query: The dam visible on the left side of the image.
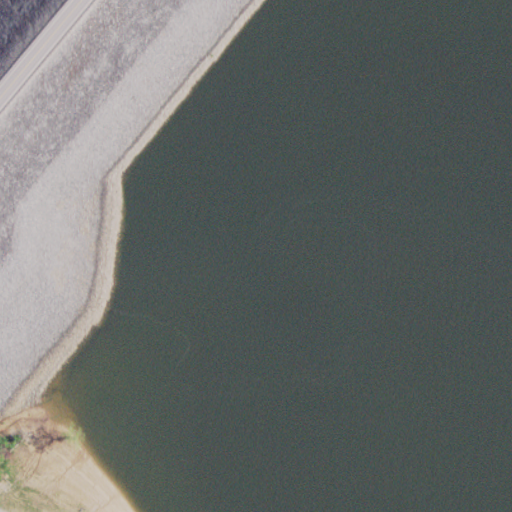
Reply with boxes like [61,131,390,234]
[0,0,274,426]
